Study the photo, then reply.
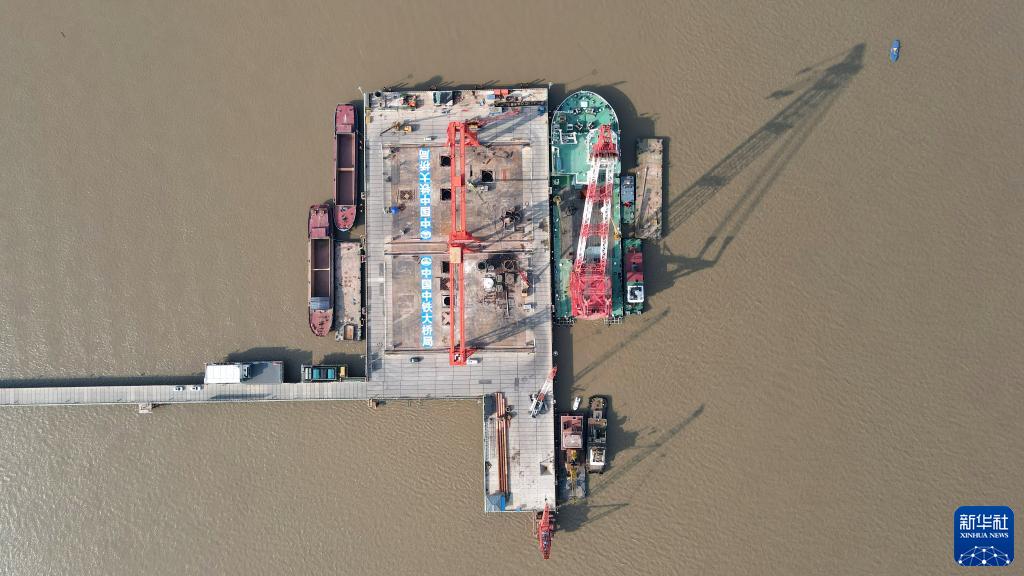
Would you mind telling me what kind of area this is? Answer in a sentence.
This image shows a port.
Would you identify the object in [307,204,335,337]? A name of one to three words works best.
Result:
ship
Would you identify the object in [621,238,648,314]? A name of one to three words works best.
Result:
boat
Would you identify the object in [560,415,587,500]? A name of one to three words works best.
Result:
ship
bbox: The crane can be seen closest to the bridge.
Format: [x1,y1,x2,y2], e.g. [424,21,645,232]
[443,244,482,365]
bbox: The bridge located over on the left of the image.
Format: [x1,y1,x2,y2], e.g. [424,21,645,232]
[0,382,368,407]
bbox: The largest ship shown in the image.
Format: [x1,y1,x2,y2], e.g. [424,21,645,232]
[549,90,622,328]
